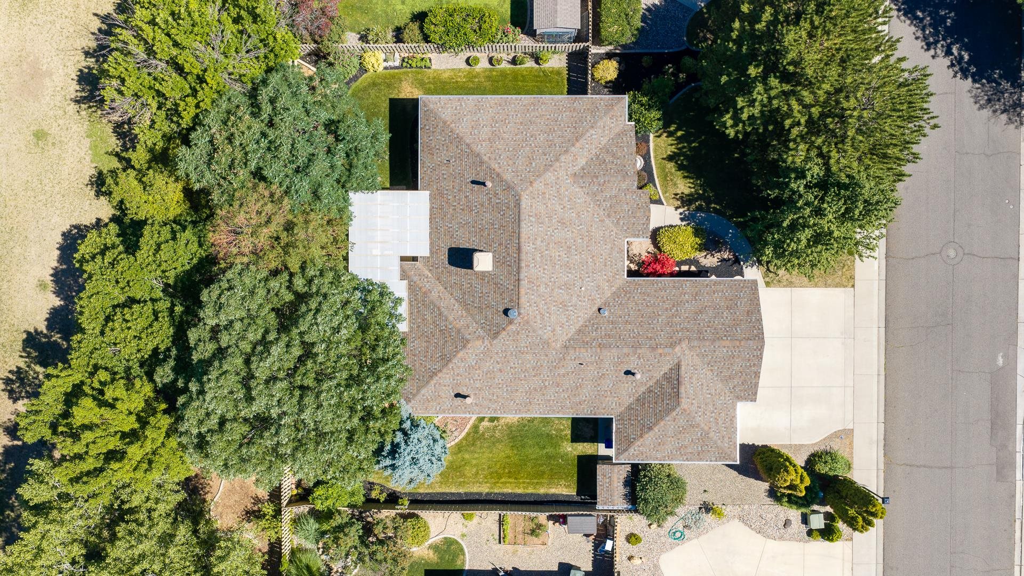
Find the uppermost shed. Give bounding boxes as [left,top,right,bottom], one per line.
[533,0,580,38]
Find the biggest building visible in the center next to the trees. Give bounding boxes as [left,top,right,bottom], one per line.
[404,94,766,465]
